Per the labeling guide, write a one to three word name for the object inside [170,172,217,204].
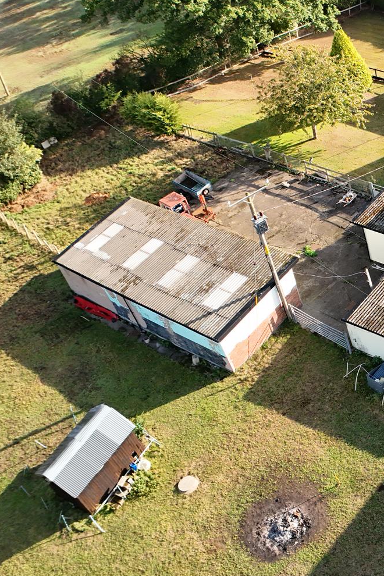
trailer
